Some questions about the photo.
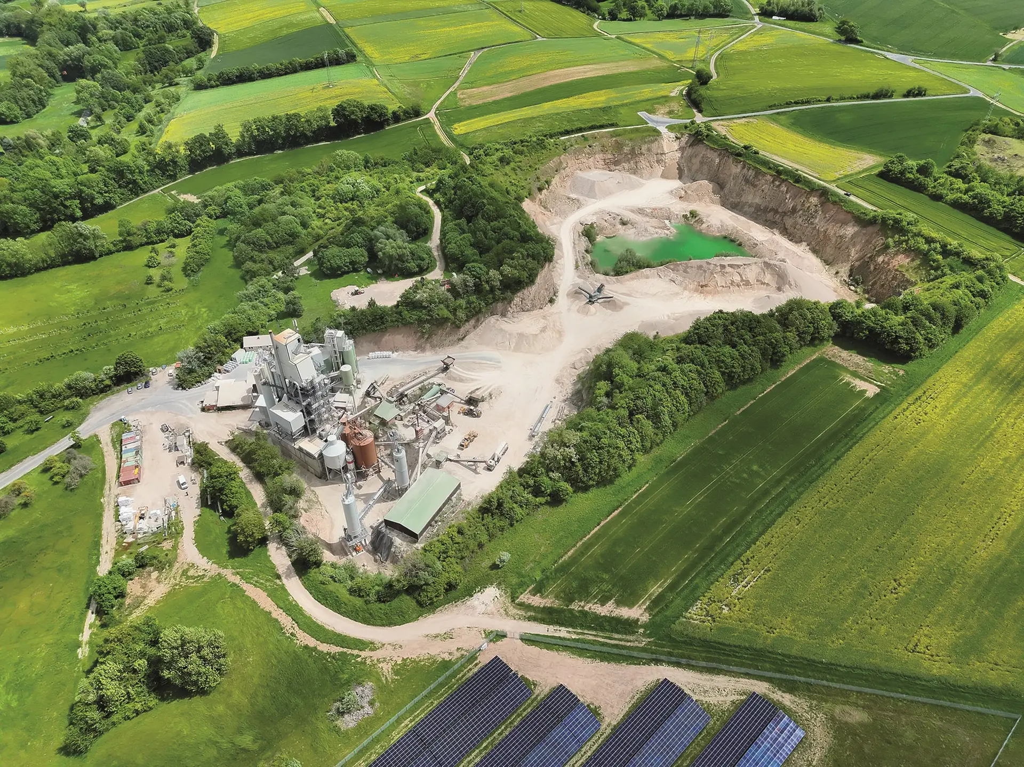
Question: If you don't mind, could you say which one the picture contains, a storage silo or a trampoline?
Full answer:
Looking from above, you can make out a storage silo.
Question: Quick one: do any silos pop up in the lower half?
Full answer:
Yes, I can see a silo in the lower half.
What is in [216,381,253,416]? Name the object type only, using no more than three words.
building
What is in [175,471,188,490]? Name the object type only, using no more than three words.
vehicle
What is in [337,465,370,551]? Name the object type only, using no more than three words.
silo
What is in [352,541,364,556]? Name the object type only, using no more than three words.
vehicle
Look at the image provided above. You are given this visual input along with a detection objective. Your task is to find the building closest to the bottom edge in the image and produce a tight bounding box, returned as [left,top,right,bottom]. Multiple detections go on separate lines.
[384,469,461,544]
